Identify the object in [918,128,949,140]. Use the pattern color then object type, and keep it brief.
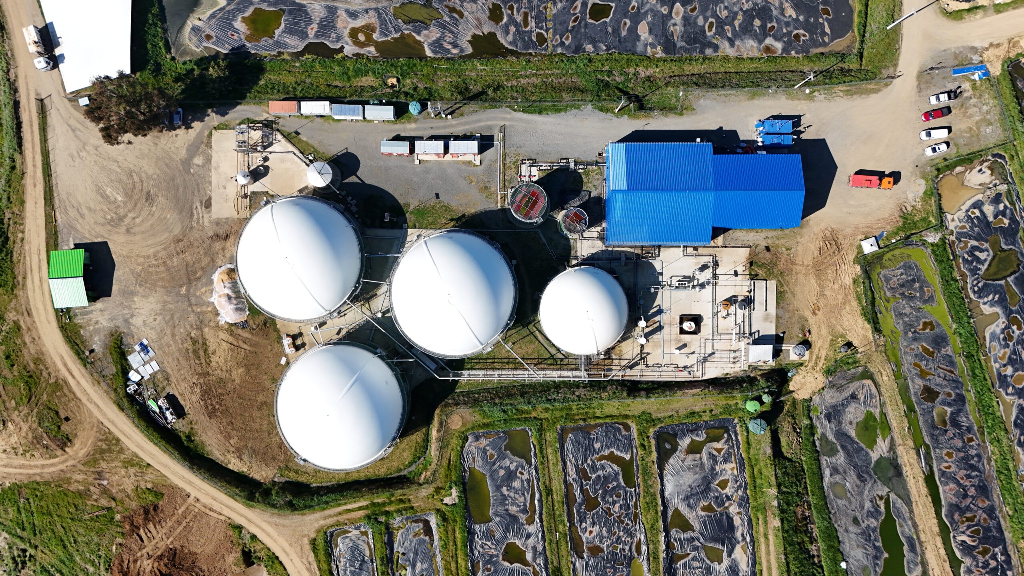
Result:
white vehicle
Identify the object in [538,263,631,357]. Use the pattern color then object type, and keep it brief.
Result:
white storage tank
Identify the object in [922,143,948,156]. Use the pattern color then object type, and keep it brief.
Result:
white vehicle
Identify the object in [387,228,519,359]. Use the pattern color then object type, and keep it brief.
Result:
white storage tank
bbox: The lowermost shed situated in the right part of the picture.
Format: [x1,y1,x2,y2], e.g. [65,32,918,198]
[746,345,773,362]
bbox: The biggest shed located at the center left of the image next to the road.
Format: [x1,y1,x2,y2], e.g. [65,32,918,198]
[49,249,94,308]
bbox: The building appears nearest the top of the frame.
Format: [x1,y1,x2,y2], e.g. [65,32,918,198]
[39,0,137,94]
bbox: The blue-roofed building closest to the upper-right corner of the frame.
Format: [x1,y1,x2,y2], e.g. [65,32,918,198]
[606,142,804,244]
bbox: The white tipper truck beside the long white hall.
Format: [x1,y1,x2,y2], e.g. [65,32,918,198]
[23,22,57,71]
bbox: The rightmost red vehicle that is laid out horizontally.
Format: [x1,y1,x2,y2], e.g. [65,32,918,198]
[920,108,949,123]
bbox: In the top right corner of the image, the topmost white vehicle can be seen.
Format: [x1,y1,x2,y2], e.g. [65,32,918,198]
[926,91,955,105]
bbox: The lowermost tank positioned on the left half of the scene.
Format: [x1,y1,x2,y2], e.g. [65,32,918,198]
[273,342,407,474]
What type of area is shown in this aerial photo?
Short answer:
industrial area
